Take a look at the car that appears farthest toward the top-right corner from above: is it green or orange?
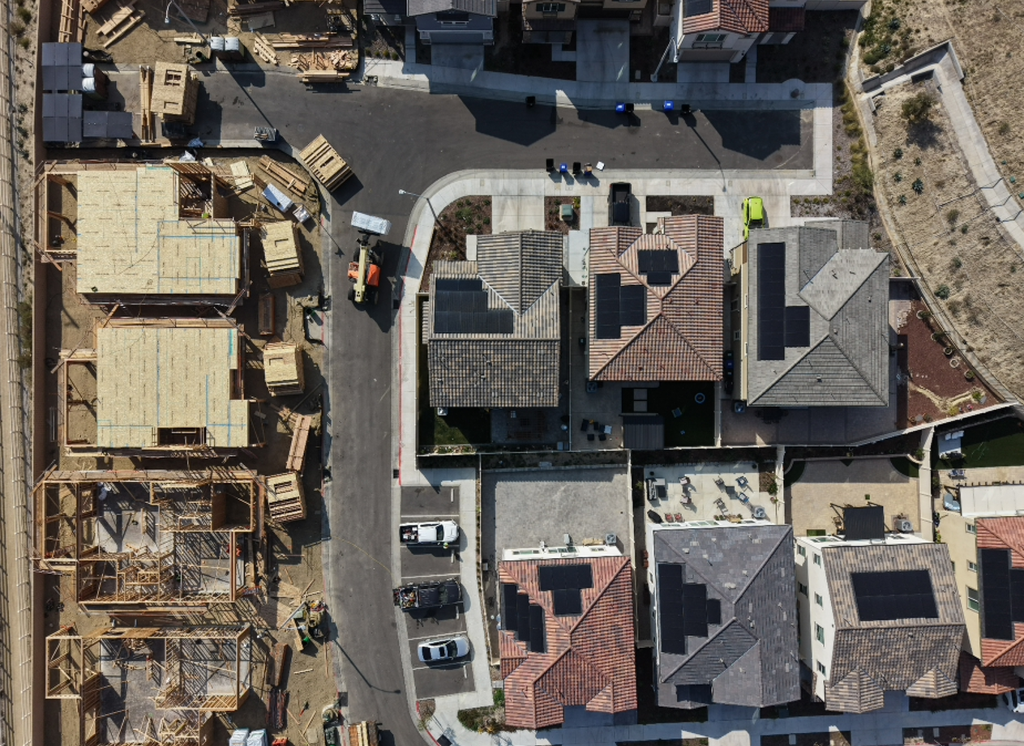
green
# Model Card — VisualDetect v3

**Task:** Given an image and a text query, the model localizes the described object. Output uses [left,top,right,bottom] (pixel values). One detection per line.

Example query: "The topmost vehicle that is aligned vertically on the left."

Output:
[348,228,381,302]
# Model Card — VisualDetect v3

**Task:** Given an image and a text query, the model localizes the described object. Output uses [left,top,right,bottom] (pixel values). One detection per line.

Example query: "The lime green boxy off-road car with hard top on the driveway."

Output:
[740,195,766,239]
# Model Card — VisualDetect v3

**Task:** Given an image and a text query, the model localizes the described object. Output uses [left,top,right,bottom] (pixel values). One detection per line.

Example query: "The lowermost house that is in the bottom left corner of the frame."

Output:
[46,626,251,746]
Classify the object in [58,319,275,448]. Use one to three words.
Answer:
house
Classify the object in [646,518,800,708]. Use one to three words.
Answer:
house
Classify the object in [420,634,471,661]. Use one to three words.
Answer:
car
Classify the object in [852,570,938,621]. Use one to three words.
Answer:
solar array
